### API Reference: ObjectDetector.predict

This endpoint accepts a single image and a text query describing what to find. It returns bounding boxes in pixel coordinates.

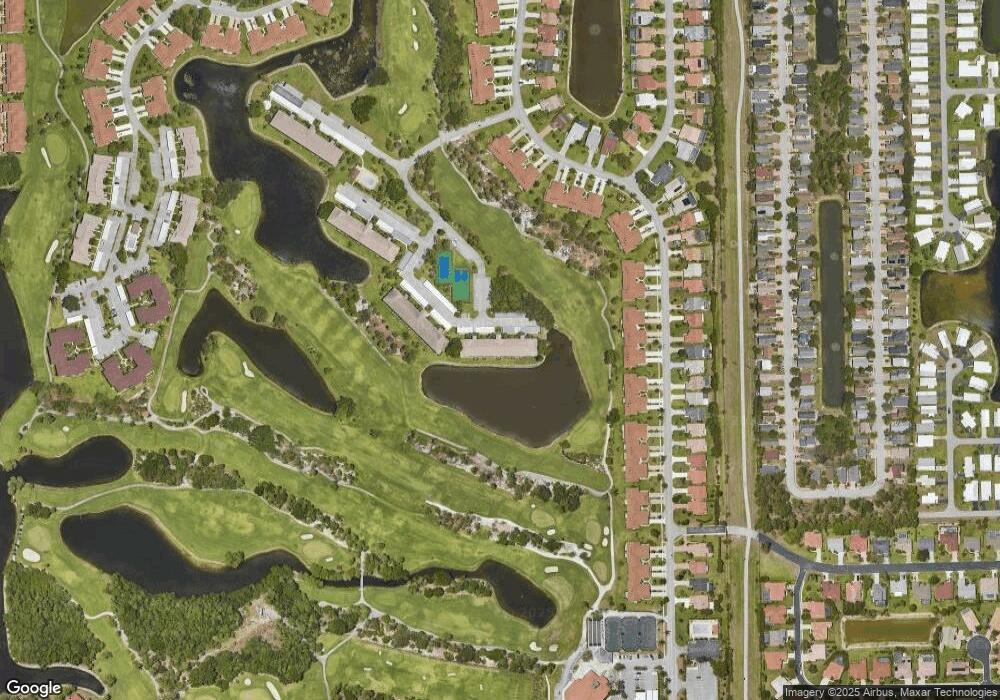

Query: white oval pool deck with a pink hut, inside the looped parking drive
[124,222,143,252]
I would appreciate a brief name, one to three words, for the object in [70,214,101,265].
building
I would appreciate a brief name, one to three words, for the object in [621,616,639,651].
tennis court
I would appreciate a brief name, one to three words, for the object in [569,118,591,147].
house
